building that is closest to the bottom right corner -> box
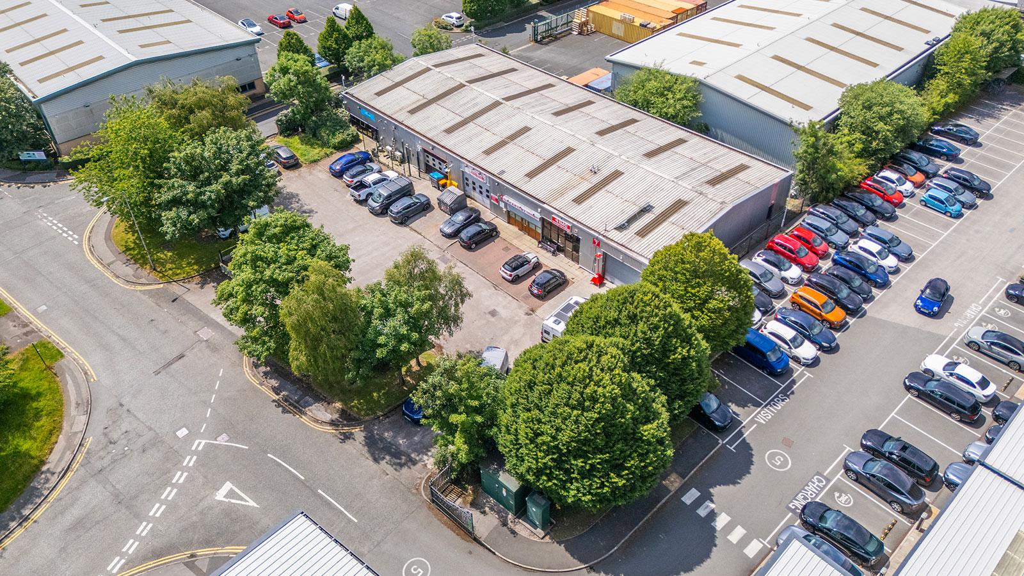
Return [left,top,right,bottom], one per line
[898,400,1024,576]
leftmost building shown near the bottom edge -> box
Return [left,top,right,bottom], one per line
[199,507,359,576]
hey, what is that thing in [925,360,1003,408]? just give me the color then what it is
white car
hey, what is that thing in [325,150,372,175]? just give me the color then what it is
blue car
